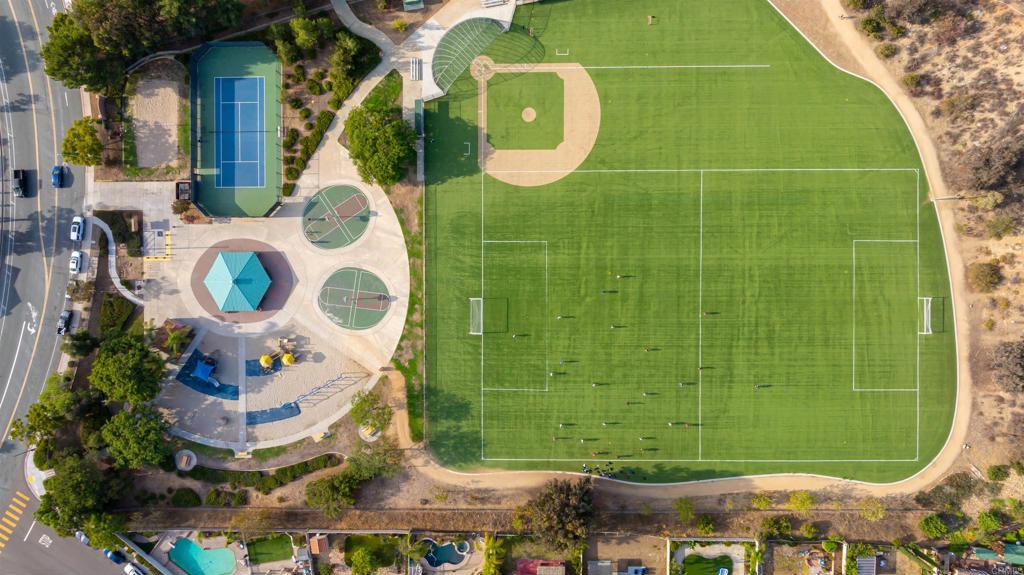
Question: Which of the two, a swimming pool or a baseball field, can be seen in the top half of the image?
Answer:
baseball field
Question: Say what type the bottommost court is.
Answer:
basketball court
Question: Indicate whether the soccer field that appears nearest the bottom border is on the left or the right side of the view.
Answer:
right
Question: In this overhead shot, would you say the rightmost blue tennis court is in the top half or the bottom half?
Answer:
top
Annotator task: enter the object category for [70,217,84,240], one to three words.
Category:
car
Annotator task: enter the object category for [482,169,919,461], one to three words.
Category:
soccer field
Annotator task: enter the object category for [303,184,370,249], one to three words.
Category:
basketball court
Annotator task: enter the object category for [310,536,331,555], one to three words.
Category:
shed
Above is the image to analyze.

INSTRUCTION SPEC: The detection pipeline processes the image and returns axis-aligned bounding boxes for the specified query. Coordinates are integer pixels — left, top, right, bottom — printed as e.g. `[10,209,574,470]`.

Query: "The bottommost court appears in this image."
[318,267,390,330]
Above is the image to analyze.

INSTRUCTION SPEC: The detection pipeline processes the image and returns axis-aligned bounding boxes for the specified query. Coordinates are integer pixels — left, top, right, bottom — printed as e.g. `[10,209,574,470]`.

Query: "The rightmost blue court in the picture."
[198,47,281,215]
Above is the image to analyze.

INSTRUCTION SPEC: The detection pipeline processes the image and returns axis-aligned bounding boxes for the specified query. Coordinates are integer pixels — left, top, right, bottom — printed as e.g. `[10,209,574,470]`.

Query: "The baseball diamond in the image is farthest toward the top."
[463,49,770,186]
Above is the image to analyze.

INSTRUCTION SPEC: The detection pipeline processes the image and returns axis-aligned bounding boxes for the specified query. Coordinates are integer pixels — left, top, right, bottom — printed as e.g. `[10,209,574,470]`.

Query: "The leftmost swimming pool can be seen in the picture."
[165,537,237,575]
